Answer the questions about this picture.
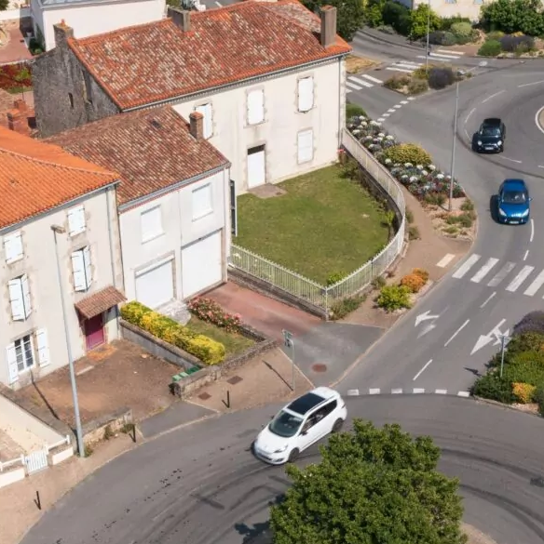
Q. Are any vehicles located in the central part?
No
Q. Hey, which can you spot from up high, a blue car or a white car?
blue car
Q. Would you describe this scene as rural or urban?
urban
